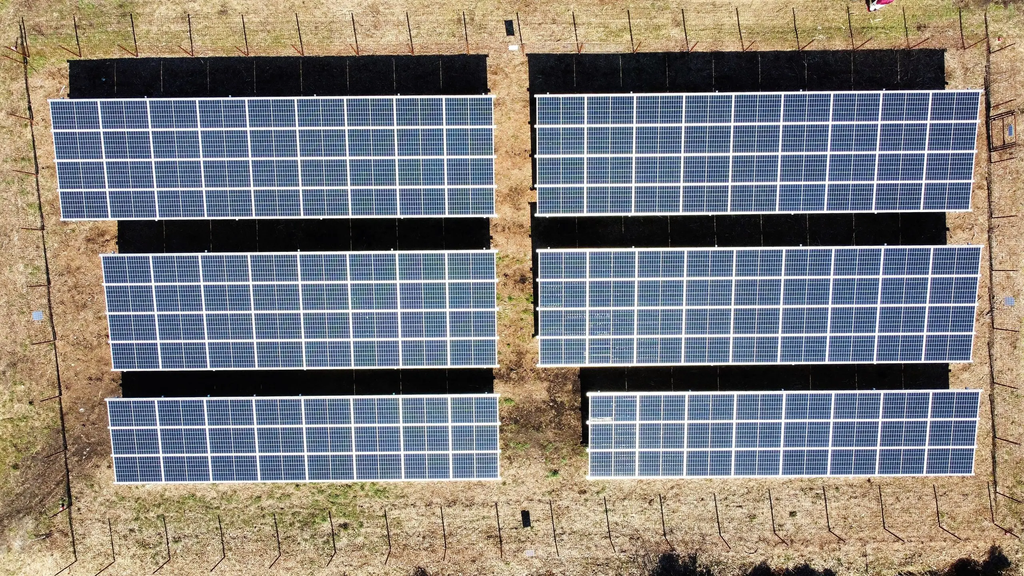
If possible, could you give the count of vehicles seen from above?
0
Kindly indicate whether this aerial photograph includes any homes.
No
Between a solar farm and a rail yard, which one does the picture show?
solar farm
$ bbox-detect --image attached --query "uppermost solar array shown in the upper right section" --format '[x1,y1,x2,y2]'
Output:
[534,87,983,218]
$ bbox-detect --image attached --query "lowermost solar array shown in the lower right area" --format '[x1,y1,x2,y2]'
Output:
[586,385,983,480]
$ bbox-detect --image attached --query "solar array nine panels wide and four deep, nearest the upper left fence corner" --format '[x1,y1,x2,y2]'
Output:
[47,92,497,222]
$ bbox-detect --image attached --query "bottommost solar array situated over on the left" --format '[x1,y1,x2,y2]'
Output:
[105,390,501,485]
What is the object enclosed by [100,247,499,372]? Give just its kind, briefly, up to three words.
solar array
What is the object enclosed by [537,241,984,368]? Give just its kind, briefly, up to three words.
solar array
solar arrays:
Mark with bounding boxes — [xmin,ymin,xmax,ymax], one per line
[47,92,497,222]
[586,385,983,480]
[537,241,984,368]
[100,247,499,372]
[534,87,983,218]
[105,390,501,485]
